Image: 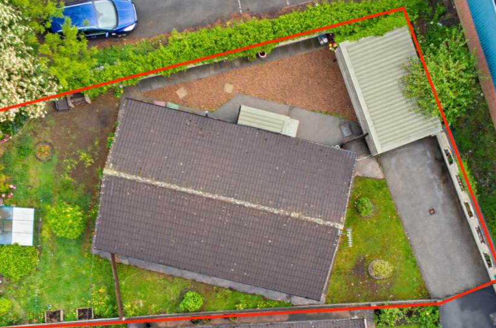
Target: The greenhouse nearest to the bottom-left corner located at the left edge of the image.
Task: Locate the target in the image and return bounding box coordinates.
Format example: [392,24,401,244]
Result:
[0,206,38,246]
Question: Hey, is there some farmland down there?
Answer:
No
